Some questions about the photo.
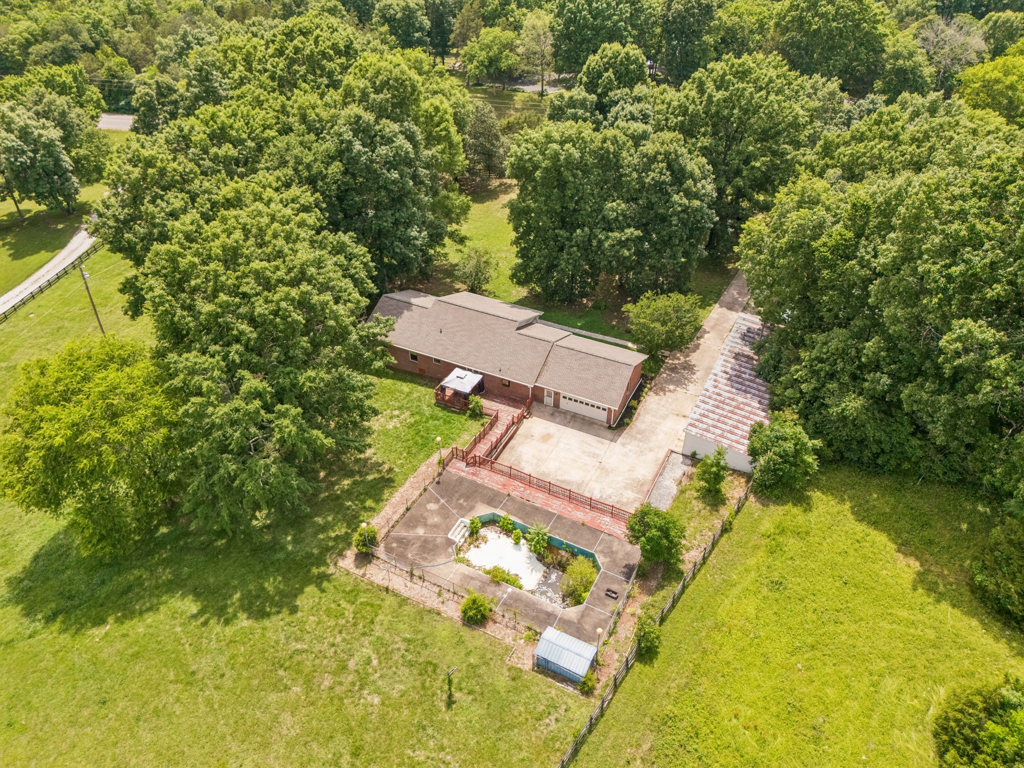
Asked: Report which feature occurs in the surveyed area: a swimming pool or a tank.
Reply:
swimming pool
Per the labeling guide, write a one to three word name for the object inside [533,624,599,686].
shed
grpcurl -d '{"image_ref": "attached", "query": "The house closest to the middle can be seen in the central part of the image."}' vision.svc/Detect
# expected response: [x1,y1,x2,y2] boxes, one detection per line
[357,293,648,424]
